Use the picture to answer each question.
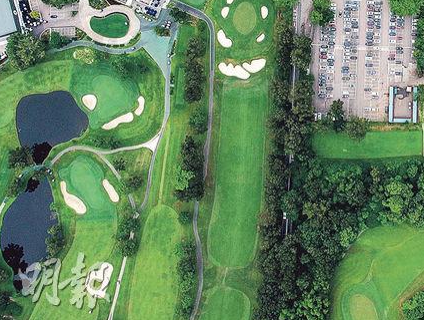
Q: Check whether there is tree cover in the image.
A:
Yes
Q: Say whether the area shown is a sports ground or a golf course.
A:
golf course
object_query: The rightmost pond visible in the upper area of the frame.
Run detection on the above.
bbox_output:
[16,91,87,162]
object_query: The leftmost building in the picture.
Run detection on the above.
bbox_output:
[0,0,31,53]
